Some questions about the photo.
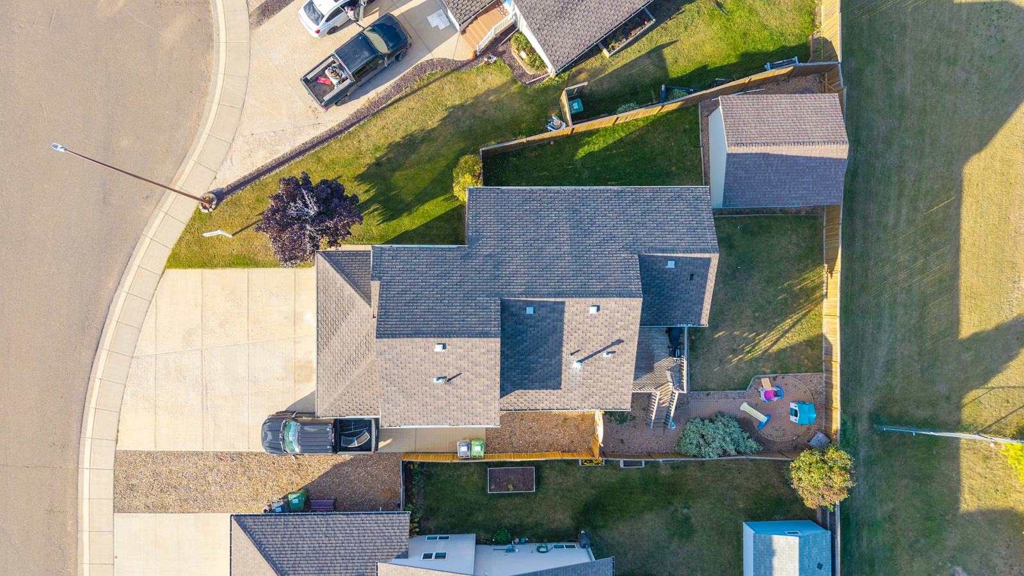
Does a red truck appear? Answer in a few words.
No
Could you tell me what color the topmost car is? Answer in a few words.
white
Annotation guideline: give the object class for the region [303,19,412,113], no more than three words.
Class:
truck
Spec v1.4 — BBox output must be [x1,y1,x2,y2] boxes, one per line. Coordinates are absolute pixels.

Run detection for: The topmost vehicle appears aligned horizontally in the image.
[298,0,382,41]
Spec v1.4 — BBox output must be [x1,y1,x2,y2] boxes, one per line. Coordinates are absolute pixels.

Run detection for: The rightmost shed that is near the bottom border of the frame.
[743,524,830,576]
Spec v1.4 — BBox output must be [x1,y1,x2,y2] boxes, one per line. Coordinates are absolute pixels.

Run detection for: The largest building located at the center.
[314,184,718,428]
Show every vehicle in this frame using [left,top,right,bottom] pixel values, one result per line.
[298,0,382,41]
[263,412,382,461]
[303,19,412,113]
